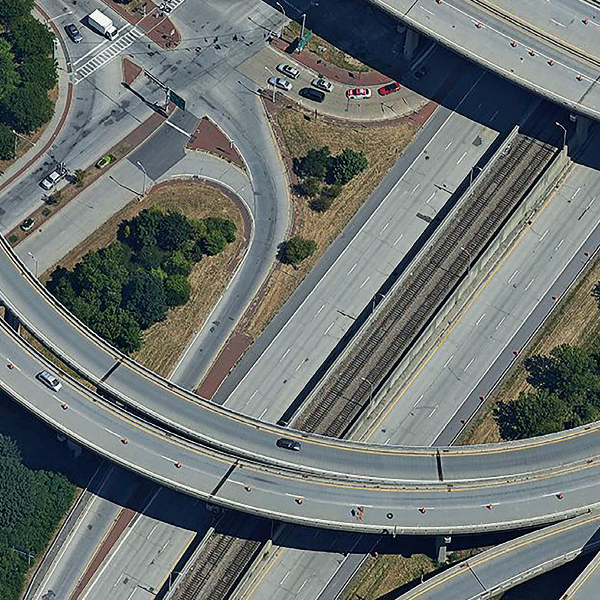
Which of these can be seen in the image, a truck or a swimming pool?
truck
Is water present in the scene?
No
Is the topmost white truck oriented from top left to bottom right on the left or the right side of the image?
left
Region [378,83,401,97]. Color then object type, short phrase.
red car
